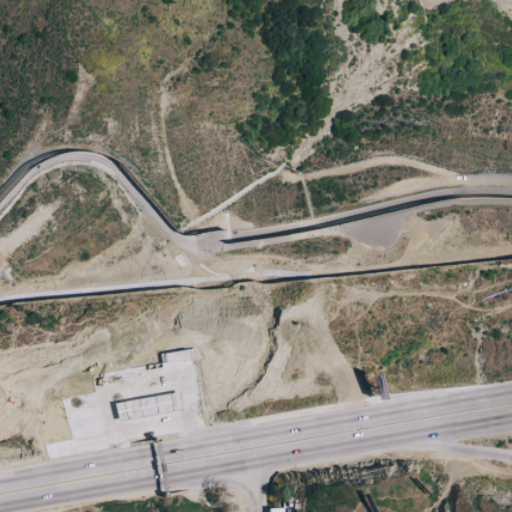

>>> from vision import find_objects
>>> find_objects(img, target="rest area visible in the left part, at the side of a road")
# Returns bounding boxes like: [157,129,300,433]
[46,358,246,458]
